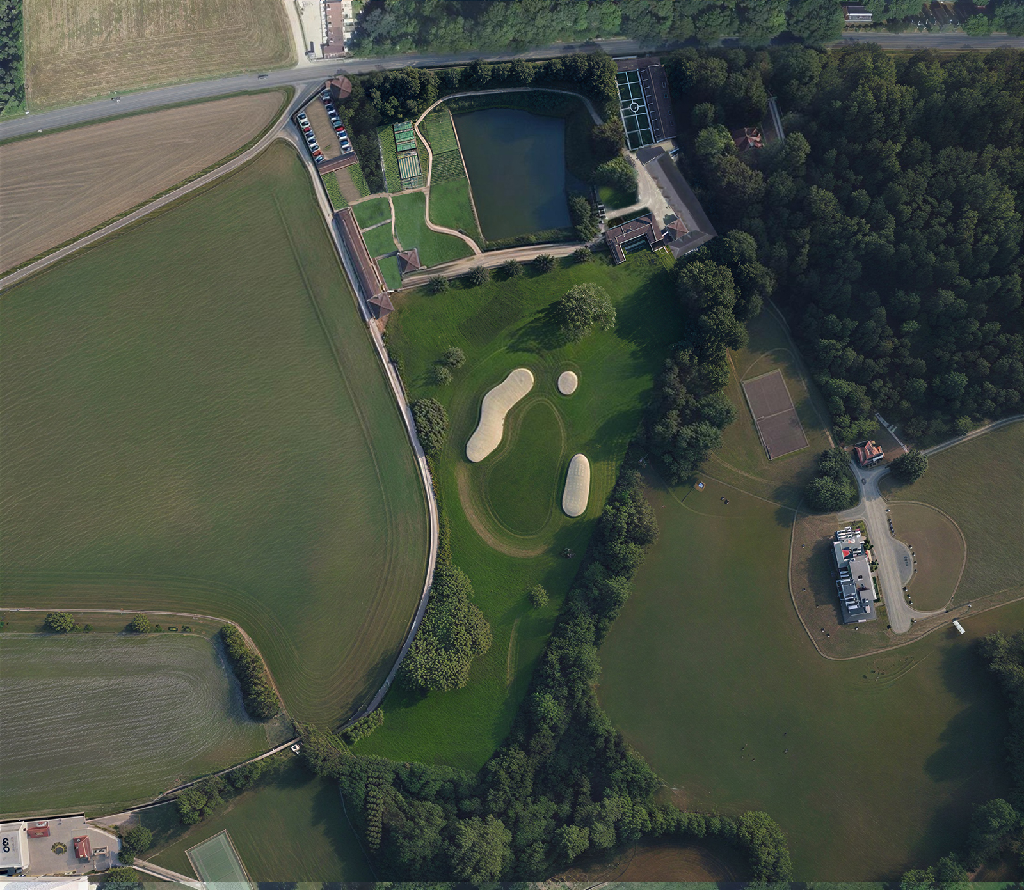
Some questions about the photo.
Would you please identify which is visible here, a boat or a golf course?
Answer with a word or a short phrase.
golf course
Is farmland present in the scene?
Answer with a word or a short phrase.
Yes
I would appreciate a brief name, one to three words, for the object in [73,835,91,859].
house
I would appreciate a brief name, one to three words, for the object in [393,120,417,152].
greenhouse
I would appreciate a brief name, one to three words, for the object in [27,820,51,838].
building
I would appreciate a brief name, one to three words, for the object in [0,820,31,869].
building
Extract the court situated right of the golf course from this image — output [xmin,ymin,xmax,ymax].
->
[741,369,809,459]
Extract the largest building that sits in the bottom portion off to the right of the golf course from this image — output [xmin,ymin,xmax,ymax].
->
[831,536,878,624]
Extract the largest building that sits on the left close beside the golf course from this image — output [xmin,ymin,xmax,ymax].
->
[334,207,381,301]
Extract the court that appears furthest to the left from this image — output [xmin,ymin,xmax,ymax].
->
[186,830,256,890]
